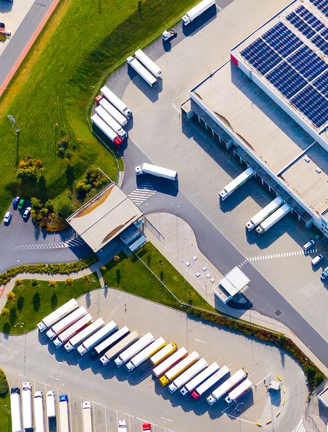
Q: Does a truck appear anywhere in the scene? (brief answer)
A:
Yes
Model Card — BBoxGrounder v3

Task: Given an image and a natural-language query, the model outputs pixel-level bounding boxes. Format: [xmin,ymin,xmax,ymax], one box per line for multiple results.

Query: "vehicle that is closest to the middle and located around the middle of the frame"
[137,168,178,183]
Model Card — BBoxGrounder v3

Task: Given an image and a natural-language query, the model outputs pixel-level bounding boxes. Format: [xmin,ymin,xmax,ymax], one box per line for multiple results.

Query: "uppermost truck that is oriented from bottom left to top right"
[182,0,215,27]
